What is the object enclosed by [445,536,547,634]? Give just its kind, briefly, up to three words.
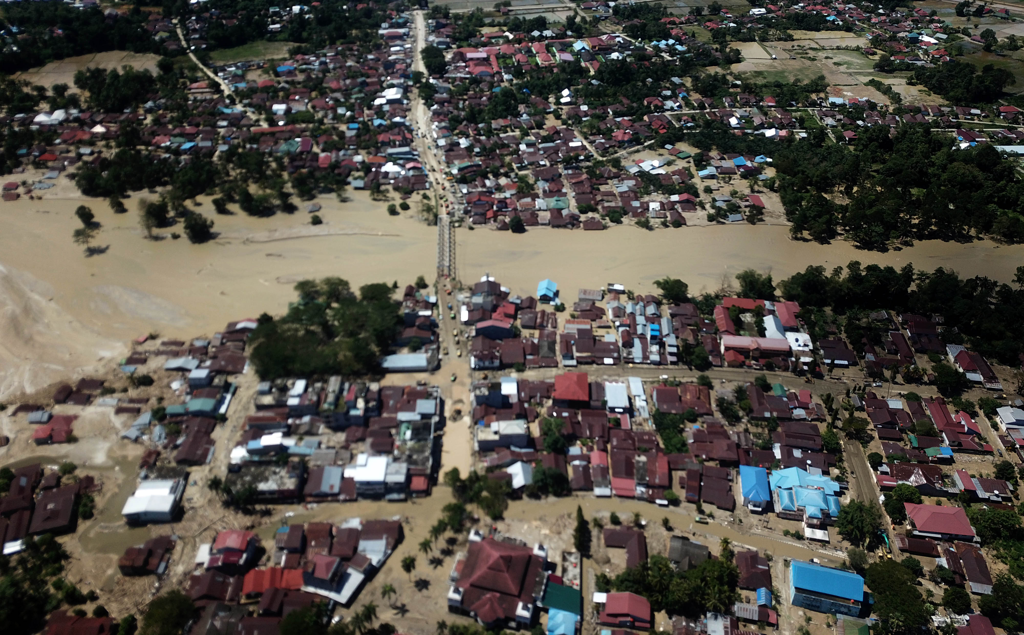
building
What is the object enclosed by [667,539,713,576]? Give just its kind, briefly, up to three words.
house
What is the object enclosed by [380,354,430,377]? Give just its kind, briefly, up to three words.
building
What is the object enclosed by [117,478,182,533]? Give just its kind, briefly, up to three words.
house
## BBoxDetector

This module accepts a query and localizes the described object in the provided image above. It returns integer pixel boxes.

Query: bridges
[438,219,453,281]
